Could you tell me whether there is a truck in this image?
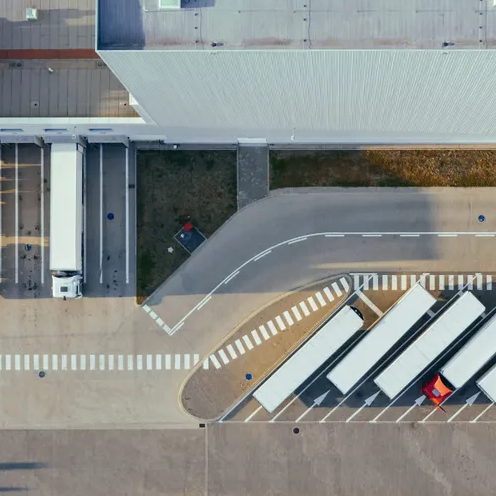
Yes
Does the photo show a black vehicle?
No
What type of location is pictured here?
industrial area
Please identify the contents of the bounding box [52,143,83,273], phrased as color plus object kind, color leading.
white trailer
